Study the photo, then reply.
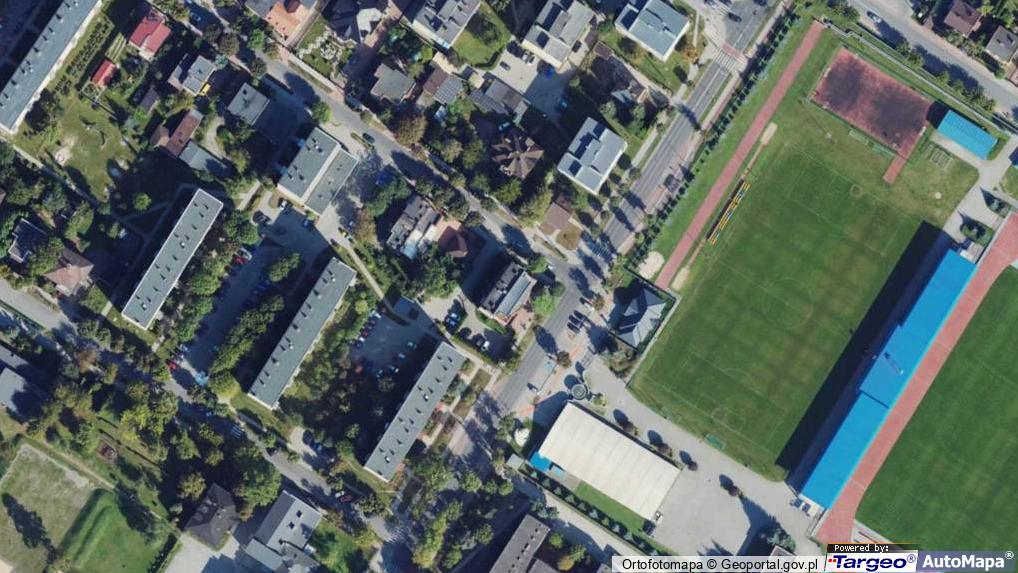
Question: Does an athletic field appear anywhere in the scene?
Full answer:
Yes, there's an athletic field down there.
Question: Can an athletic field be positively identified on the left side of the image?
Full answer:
No, no athletic field is visible on the left side of the image.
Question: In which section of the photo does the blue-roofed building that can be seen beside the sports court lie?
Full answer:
The blue-roofed building that can be seen beside the sports court appears toward the top right of the photo.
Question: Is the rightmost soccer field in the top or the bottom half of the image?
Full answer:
The rightmost soccer field is in the bottom half of the image.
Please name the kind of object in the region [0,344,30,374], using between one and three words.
building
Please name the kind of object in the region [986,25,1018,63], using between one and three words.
house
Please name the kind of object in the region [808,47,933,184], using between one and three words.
sports court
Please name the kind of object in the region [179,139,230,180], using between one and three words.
shed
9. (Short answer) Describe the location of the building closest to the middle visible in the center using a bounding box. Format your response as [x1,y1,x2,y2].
[479,262,536,326]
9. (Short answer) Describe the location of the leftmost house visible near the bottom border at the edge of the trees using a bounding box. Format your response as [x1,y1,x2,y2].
[186,483,237,551]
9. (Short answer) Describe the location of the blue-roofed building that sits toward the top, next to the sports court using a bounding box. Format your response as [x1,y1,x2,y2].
[936,109,997,161]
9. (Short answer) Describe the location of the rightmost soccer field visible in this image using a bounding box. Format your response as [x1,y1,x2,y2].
[855,264,1018,573]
